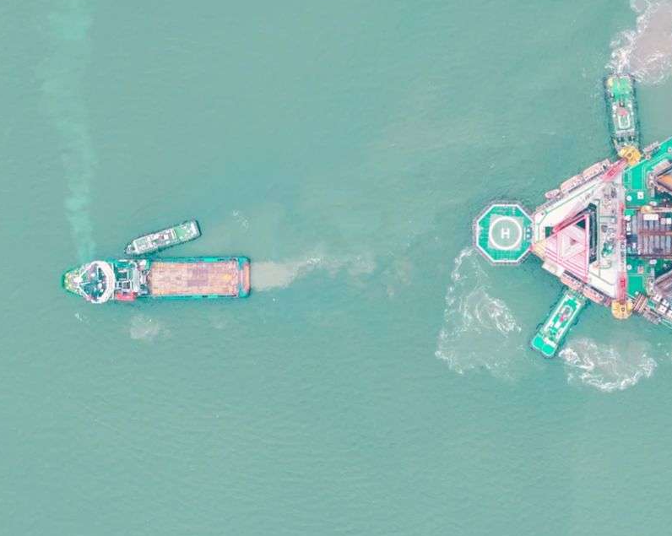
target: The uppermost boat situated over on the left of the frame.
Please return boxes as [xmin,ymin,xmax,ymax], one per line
[123,217,206,257]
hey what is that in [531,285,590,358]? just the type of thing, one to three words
boat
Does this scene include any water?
Yes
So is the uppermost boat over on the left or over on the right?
right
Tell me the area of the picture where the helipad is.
right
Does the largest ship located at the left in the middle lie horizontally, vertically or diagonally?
horizontally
